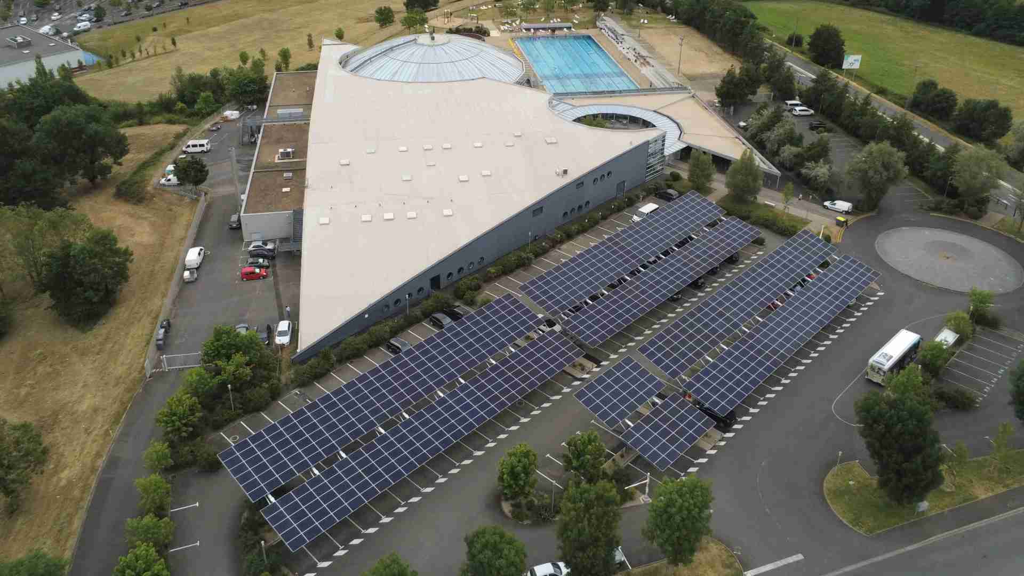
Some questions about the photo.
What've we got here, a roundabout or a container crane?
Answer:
roundabout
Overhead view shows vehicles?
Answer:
Yes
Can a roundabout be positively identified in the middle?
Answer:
No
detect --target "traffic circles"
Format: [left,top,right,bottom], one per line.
[879,226,1021,293]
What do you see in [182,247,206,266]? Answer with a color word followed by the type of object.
white vehicle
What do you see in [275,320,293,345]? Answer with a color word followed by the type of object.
white car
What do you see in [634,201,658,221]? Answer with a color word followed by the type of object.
white vehicle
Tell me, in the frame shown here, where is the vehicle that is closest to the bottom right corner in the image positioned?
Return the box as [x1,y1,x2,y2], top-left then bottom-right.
[863,328,920,386]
